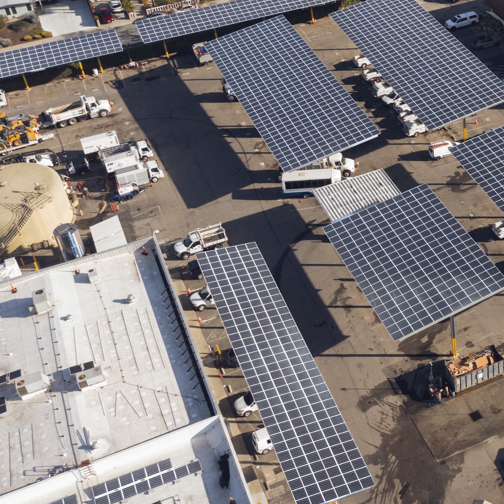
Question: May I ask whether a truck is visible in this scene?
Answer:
Yes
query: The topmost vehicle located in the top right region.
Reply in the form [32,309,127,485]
[443,7,480,30]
